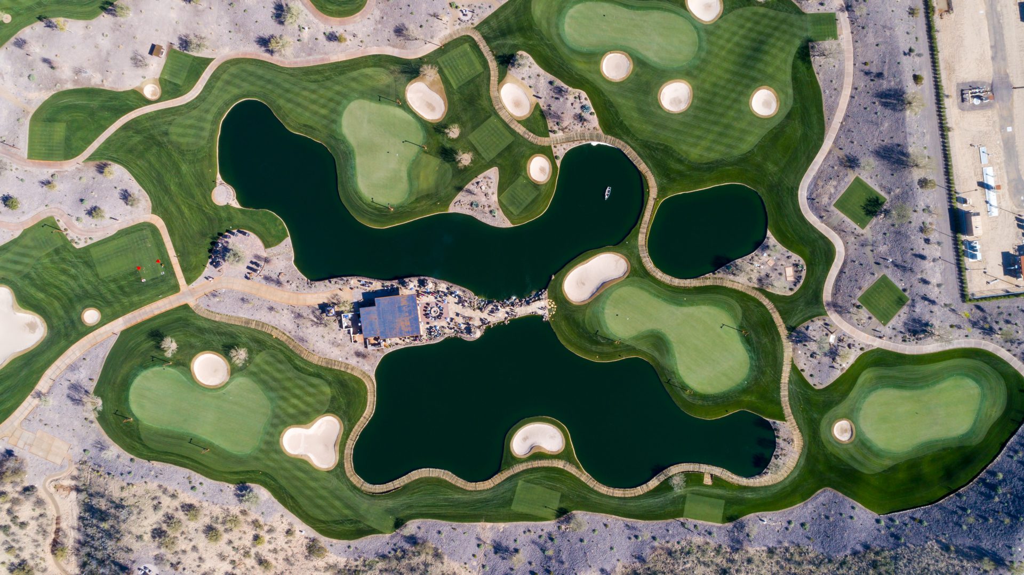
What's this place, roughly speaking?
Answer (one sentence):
The picture captures a golf course.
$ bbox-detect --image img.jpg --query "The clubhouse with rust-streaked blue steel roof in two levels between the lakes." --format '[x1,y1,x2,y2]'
[360,294,422,339]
